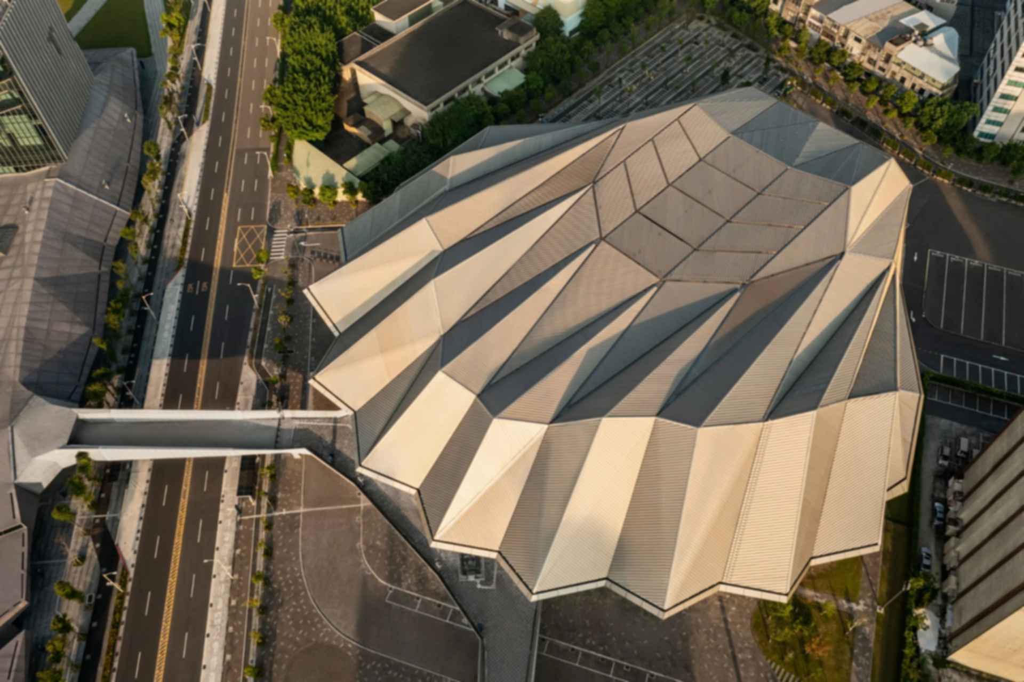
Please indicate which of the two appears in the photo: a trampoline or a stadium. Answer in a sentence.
I can see a stadium in this picture.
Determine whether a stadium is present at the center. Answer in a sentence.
Yes, at the center there is a stadium.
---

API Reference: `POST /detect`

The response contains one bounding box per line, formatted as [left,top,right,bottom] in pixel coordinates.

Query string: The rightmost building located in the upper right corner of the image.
[967,19,1024,148]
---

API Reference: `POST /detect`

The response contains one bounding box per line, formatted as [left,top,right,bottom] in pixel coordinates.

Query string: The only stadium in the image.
[299,85,925,622]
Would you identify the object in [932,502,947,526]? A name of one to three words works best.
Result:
car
